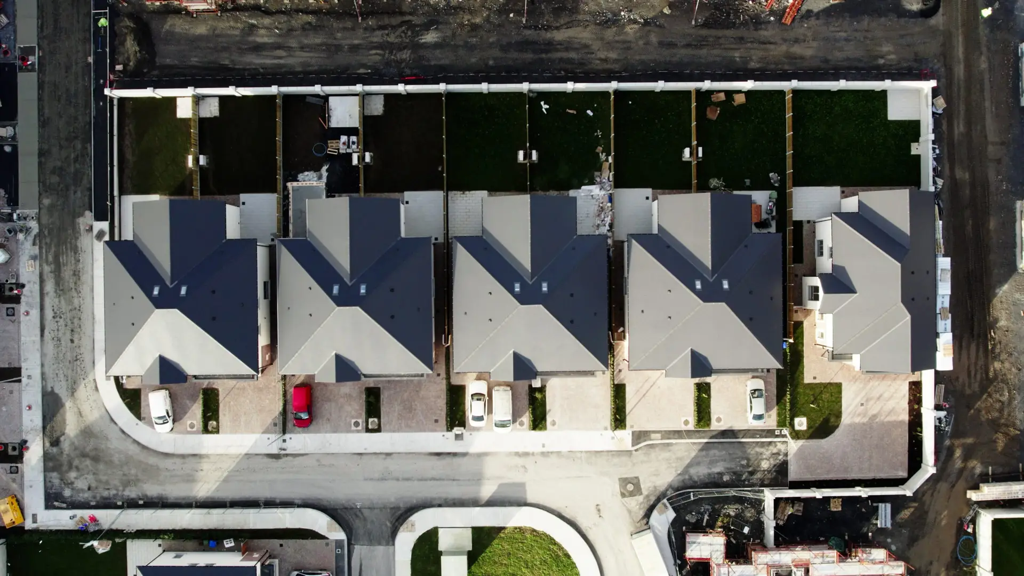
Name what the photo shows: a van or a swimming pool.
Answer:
van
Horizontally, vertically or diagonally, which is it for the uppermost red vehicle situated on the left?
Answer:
vertically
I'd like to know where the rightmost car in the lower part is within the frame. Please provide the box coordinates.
[745,377,769,424]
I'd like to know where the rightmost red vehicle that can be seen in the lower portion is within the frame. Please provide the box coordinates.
[290,383,313,427]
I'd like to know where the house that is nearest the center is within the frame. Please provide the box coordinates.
[451,192,609,381]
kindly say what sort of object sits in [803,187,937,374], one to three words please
house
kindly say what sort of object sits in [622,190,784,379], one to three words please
house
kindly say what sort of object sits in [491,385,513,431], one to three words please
car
